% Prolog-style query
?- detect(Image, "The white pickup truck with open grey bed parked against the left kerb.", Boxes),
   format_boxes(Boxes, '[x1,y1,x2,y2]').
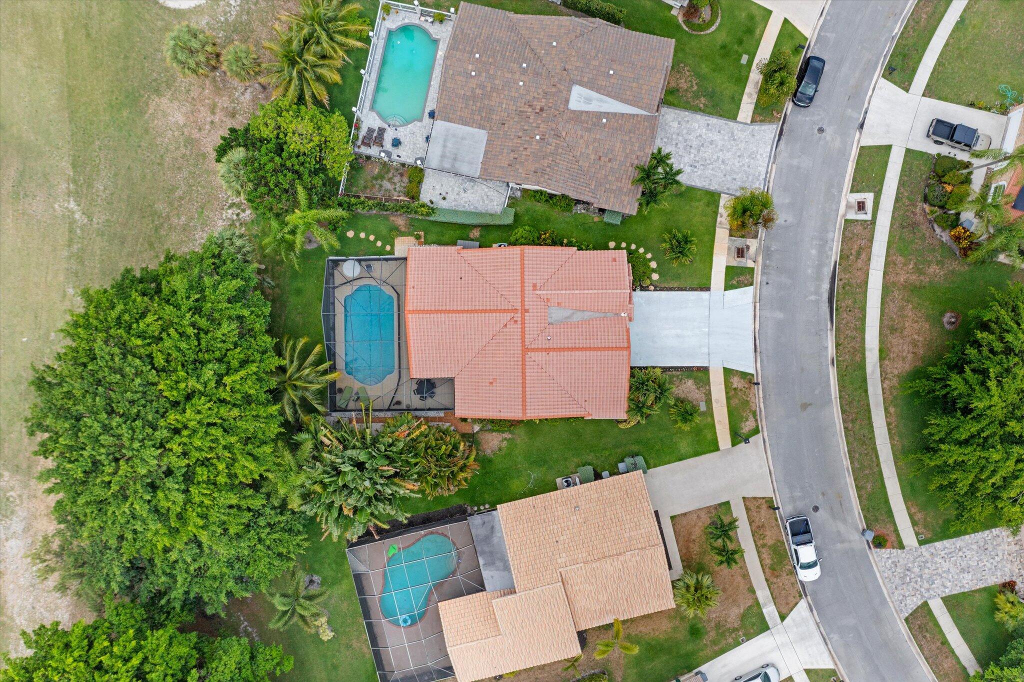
[787,514,822,583]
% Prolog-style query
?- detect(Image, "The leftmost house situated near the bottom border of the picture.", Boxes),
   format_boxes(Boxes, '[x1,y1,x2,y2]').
[437,470,677,682]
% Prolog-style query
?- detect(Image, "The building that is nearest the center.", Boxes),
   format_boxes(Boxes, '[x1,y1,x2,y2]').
[403,244,635,421]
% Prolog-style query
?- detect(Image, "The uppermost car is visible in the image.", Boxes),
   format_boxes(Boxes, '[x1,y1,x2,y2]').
[794,54,827,109]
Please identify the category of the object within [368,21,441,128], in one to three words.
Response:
swimming pool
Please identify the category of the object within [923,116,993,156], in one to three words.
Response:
truck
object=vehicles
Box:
[787,514,822,583]
[794,54,827,109]
[733,663,782,682]
[923,116,993,156]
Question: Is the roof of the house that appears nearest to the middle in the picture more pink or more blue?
pink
